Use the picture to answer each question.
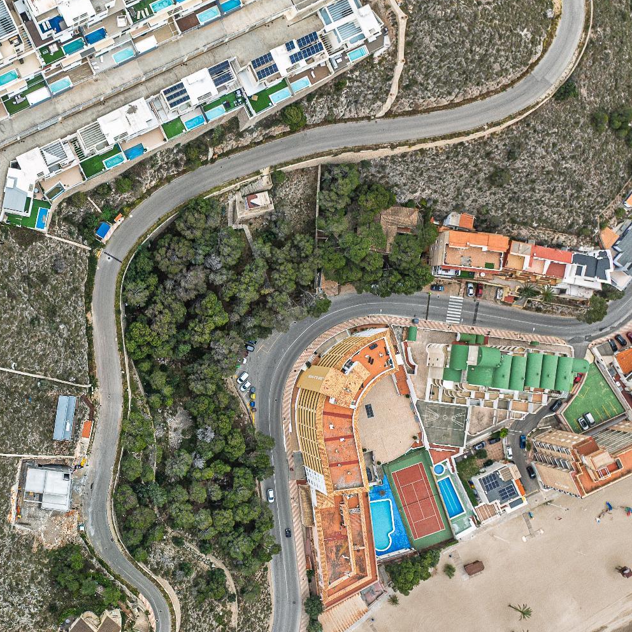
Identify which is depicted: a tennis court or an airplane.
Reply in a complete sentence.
The one in the frame is a tennis court.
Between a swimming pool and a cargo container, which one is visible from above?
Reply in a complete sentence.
Visible in the photo is a swimming pool.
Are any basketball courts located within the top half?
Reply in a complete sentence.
No, I see no basketball court within the top half.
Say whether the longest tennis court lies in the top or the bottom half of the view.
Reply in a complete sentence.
The longest tennis court sits in the bottom half of the picture.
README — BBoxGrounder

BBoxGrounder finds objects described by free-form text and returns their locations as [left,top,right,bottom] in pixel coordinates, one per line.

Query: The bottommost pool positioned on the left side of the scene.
[35,208,49,231]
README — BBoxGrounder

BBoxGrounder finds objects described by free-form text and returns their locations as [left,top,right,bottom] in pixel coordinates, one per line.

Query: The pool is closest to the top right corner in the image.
[346,45,368,61]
